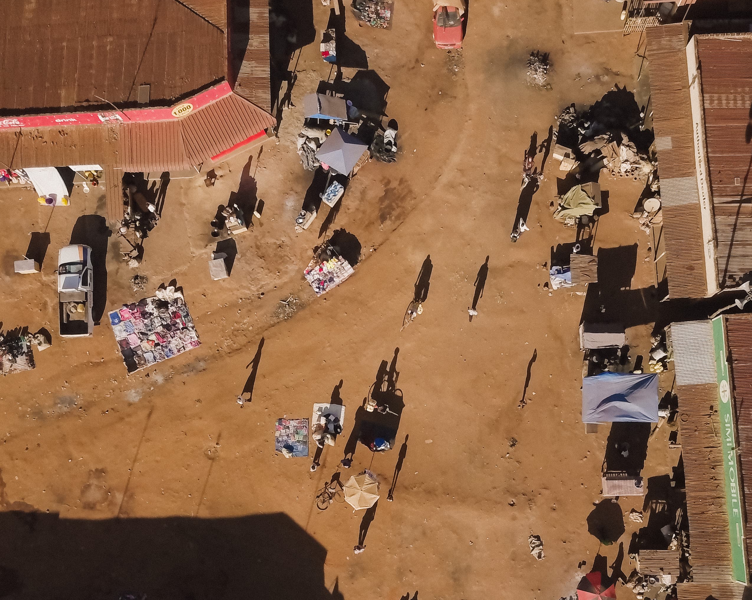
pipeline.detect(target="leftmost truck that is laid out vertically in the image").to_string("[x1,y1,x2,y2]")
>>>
[53,246,94,340]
